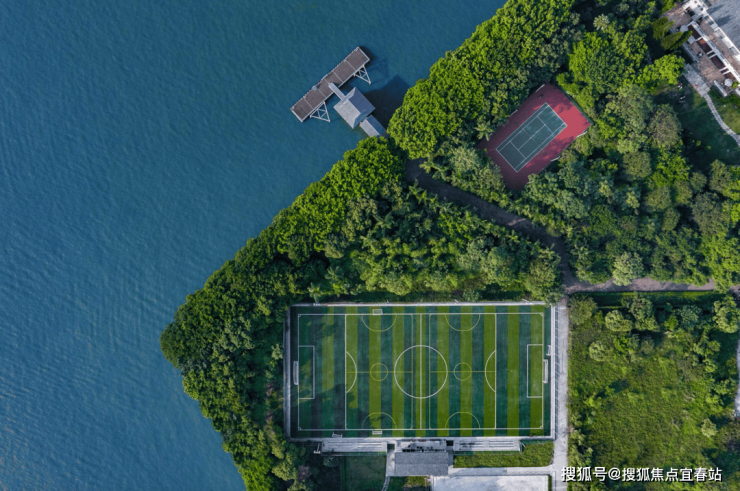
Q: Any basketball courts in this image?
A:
No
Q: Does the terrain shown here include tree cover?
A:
Yes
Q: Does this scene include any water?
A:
Yes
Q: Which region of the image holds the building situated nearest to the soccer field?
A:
bottom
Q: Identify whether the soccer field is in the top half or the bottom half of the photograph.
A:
bottom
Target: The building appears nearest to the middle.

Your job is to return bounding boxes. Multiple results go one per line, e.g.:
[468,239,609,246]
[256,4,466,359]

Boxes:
[334,87,375,129]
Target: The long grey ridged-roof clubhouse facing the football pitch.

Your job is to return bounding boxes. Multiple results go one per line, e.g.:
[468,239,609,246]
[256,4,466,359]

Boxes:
[395,448,449,476]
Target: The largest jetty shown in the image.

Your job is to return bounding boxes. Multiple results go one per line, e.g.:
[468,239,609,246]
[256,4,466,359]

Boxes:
[289,46,371,123]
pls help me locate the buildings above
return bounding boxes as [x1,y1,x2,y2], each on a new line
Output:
[395,448,449,476]
[677,0,740,93]
[334,87,375,129]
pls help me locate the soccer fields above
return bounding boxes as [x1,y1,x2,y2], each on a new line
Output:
[290,305,551,438]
